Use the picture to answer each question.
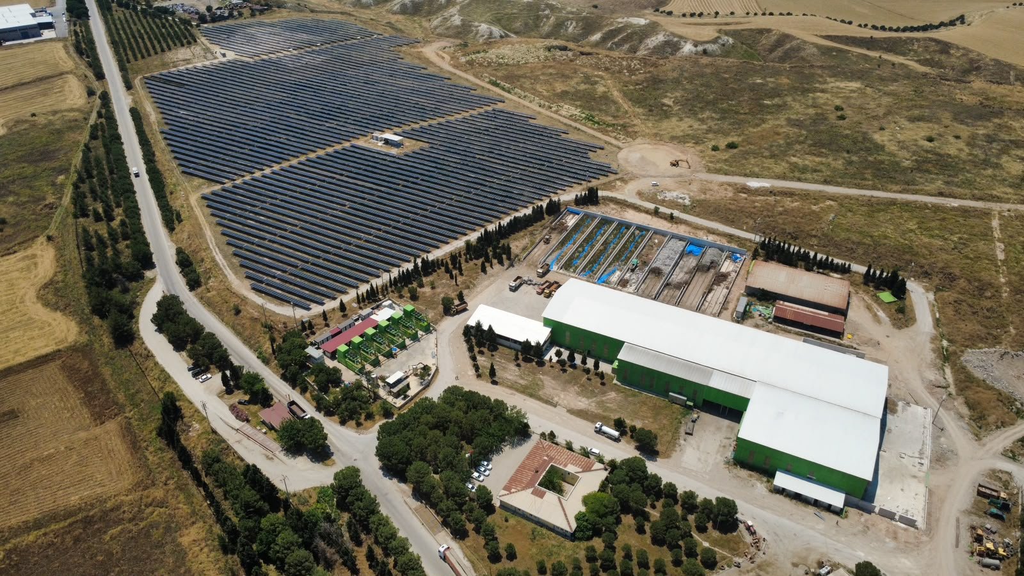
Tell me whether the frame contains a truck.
Yes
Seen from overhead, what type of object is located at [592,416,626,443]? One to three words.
truck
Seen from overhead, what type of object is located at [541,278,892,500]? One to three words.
building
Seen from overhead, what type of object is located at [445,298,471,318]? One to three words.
vehicle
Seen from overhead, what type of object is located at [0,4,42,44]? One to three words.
building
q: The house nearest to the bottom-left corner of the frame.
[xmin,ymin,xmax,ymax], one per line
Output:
[258,401,297,433]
